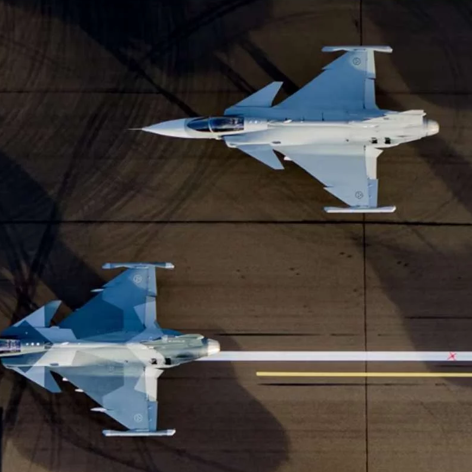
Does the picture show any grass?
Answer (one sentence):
No, no grass is visible.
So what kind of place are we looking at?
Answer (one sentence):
What you see here is an airport.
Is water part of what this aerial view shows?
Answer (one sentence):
No, the picture contains no water.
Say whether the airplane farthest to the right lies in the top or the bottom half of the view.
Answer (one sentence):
Seen from above, the airplane farthest to the right lies in the top half of the view.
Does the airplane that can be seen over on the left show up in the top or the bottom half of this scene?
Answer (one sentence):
The airplane that can be seen over on the left is in the bottom half of the image.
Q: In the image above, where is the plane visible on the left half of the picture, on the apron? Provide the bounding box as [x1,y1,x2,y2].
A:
[0,262,220,437]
